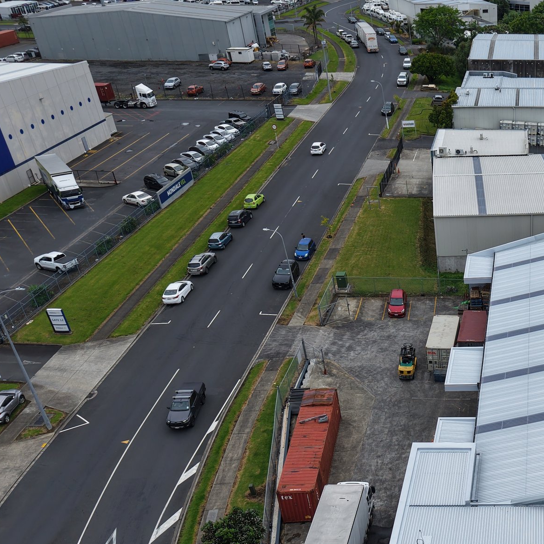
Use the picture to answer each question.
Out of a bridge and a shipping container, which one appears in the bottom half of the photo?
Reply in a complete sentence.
You can see a shipping container in the bottom half of the photo.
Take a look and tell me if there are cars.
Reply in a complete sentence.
Yes, looking at the shot, I can spot a car.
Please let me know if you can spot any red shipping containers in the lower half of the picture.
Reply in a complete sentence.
Yes, a red shipping container is visible in the lower half of the picture.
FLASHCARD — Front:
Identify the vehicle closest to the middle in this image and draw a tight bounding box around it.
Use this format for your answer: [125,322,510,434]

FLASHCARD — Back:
[273,256,300,285]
